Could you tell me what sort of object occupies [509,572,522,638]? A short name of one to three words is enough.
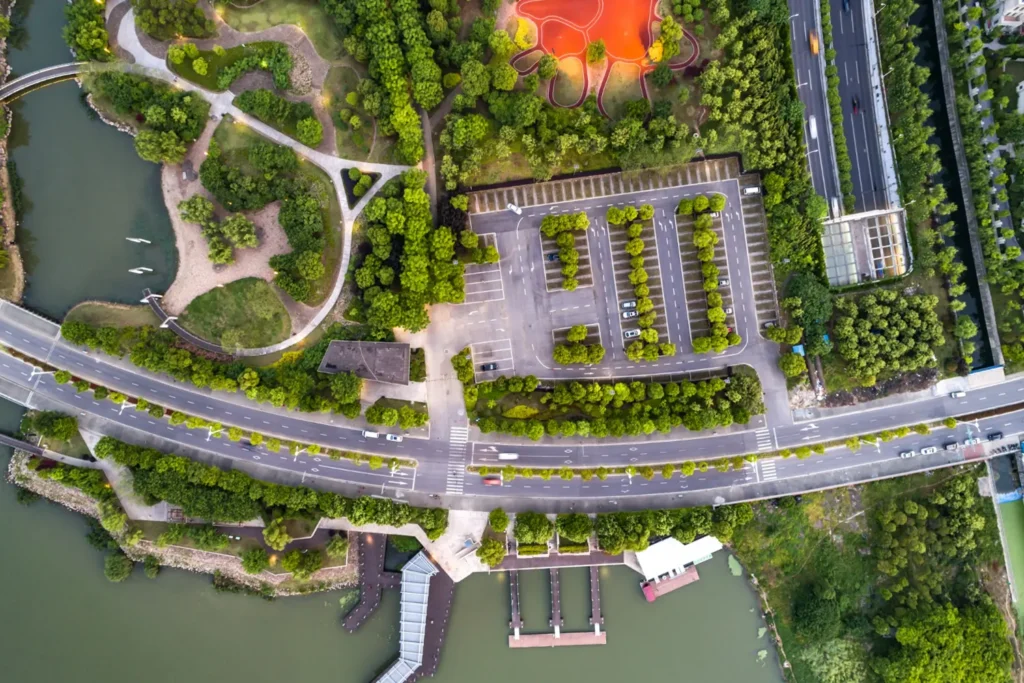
pier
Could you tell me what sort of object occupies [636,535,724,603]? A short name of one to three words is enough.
building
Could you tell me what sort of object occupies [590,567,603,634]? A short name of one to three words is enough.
pier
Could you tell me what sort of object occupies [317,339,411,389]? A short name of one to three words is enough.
building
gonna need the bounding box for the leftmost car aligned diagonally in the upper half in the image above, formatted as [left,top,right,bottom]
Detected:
[505,203,521,215]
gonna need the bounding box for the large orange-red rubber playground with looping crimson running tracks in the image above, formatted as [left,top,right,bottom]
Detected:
[506,0,700,128]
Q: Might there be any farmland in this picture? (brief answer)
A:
No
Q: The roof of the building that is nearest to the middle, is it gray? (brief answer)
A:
Yes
